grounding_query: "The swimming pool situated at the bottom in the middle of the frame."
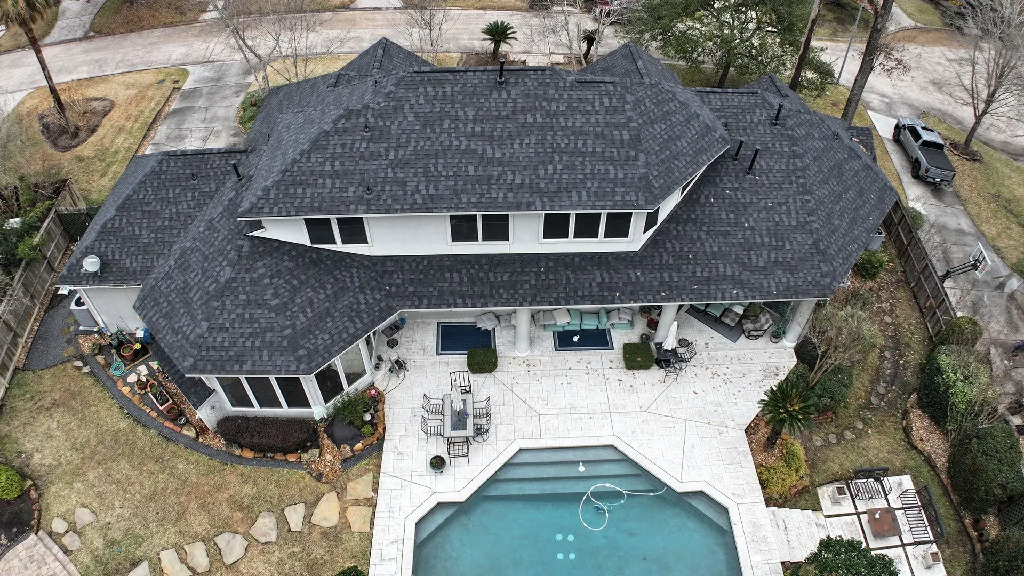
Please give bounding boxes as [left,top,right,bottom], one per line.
[402,436,756,576]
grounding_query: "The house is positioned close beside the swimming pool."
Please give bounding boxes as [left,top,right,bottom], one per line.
[55,36,900,430]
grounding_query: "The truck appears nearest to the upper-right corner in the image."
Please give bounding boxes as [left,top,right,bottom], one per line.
[897,116,969,186]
